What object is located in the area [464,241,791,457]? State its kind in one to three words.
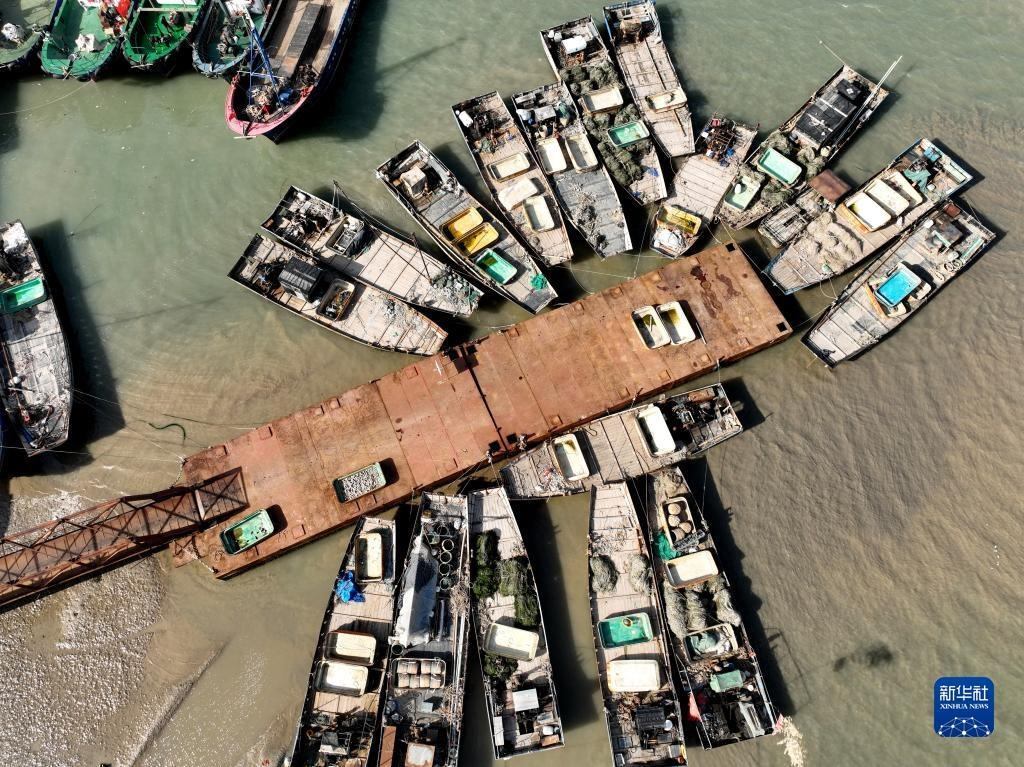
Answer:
pier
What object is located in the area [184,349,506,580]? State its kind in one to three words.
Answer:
pier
